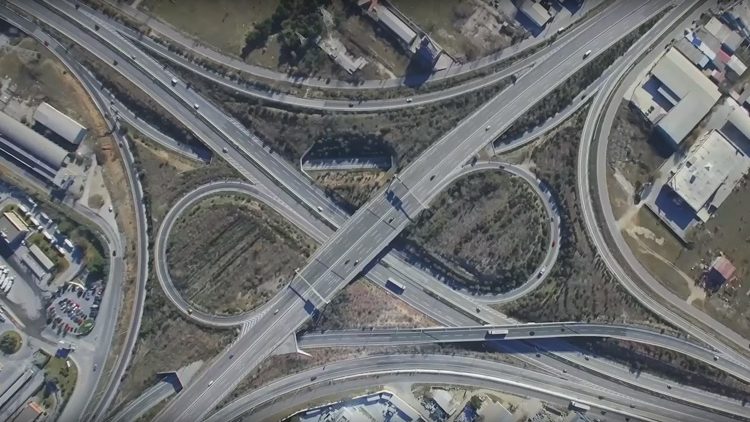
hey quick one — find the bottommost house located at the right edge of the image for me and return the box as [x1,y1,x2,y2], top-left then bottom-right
[707,256,735,281]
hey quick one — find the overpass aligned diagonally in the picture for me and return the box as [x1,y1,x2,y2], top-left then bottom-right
[313,192,408,283]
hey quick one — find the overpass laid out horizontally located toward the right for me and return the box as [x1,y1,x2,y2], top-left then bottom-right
[439,323,576,341]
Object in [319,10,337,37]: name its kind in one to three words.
pylon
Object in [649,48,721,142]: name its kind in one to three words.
building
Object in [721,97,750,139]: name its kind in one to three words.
building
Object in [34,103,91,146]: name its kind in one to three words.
shed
